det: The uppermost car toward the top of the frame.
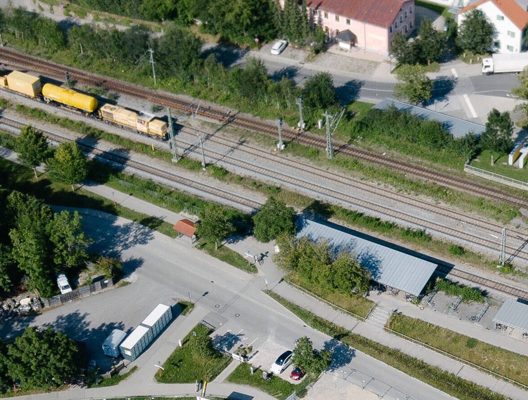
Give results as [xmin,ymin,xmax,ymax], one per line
[269,37,289,53]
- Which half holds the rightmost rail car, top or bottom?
top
